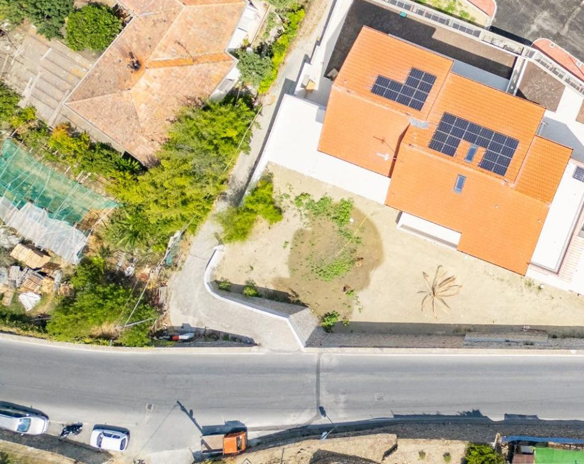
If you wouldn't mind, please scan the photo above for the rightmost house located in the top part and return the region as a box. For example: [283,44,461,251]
[249,25,584,281]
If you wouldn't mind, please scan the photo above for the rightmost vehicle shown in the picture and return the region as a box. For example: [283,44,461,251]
[200,430,249,455]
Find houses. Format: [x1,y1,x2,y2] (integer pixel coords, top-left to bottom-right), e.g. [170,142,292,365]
[61,0,260,163]
[249,25,584,281]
